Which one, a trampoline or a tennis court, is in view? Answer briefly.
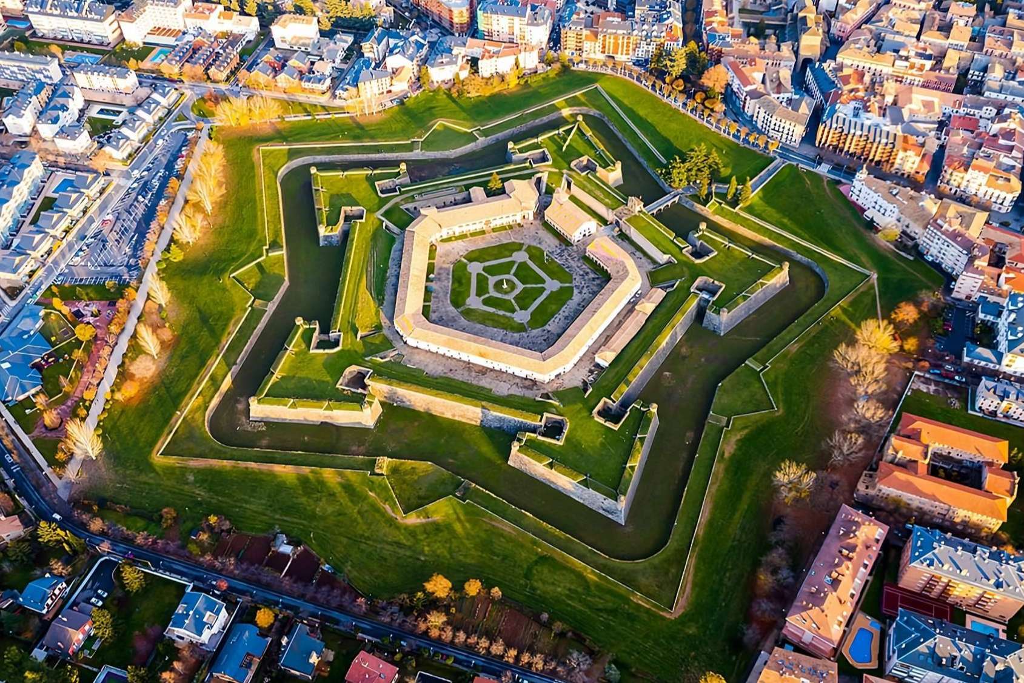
tennis court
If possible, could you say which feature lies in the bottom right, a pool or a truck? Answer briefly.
pool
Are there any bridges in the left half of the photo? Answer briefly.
No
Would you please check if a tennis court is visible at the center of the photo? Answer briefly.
No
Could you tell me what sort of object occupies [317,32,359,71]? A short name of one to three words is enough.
house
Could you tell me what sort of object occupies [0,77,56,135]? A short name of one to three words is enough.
building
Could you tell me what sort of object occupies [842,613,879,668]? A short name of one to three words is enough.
swimming pool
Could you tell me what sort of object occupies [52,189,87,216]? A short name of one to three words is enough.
house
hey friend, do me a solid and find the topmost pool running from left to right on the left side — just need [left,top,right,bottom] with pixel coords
[62,52,104,64]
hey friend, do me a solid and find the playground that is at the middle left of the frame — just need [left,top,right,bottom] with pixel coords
[31,298,117,439]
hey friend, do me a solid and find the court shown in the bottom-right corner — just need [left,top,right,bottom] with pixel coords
[879,581,953,620]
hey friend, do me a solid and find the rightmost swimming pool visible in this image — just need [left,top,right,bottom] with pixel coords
[966,614,1007,635]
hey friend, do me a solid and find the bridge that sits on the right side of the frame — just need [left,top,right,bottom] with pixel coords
[644,191,681,219]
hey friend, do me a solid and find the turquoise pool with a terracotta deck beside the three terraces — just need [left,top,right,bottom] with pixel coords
[142,46,170,68]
